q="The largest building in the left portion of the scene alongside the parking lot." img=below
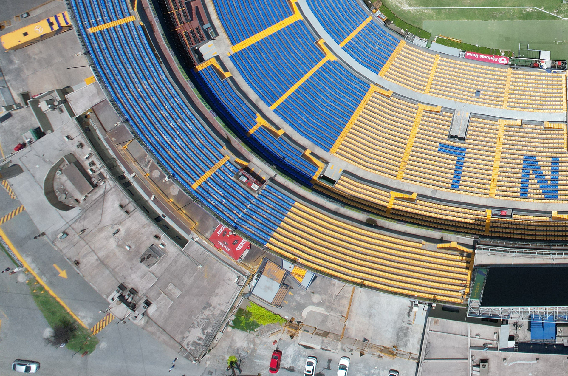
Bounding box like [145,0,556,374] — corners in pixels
[1,130,254,365]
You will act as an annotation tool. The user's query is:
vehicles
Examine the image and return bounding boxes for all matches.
[389,370,399,376]
[303,357,316,376]
[0,13,75,54]
[267,350,282,374]
[337,358,349,376]
[11,359,37,374]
